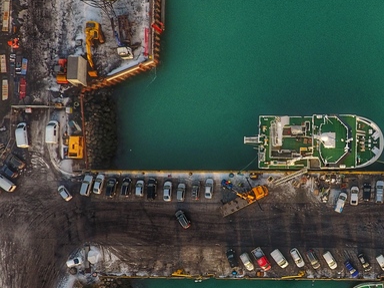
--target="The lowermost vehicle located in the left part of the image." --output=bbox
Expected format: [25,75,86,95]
[65,255,84,267]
